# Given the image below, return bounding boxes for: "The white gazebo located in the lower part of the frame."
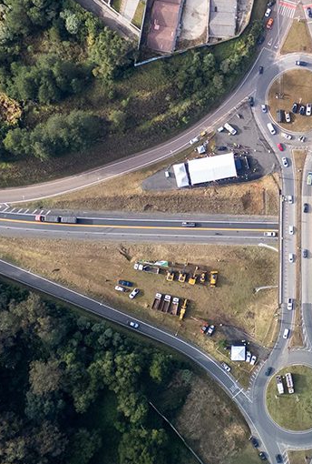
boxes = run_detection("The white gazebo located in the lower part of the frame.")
[231,345,246,359]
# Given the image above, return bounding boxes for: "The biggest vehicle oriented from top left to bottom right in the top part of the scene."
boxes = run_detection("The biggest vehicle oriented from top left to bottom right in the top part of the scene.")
[224,121,237,135]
